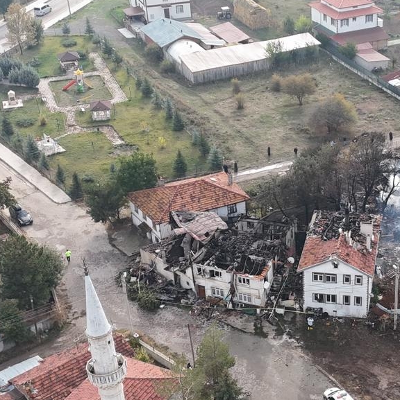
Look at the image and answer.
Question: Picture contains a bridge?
No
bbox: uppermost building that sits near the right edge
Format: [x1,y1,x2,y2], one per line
[306,0,387,49]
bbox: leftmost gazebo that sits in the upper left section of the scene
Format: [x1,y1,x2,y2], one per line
[54,50,80,72]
